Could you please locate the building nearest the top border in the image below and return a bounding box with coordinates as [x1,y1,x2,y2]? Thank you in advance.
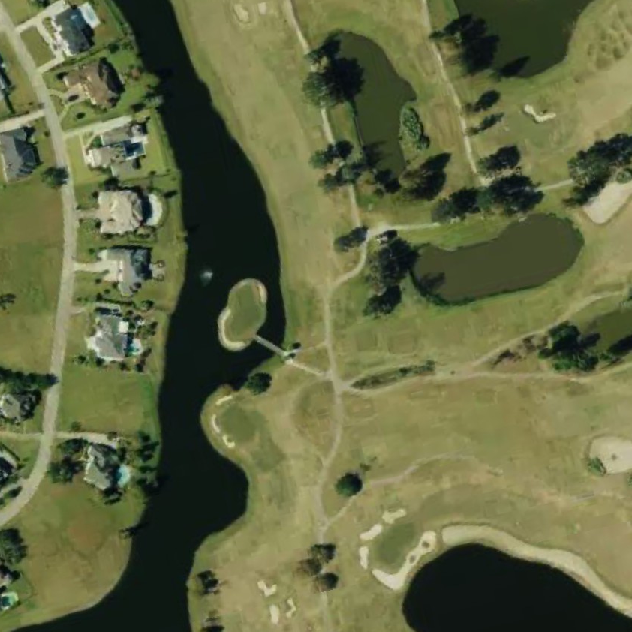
[50,9,91,56]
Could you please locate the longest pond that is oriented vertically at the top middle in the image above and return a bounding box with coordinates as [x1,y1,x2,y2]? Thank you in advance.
[337,32,416,179]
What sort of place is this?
golf course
